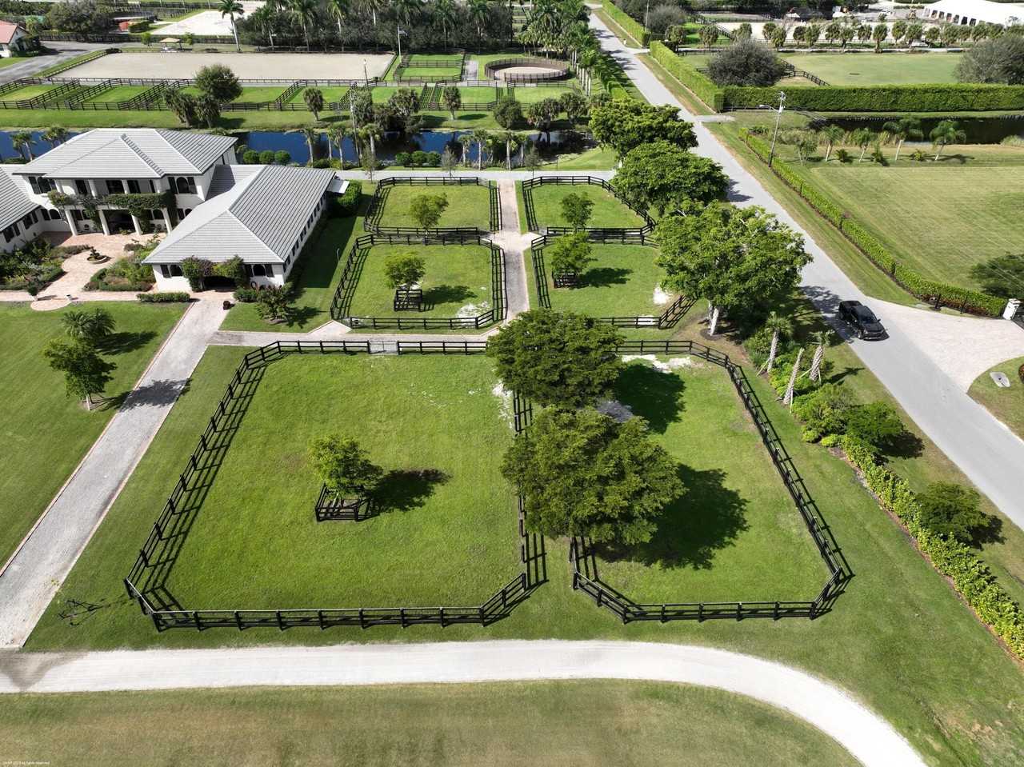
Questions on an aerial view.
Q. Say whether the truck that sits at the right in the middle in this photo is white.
No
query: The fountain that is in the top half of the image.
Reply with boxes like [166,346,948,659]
[83,241,108,262]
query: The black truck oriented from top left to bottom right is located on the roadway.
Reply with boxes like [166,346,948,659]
[836,301,890,339]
